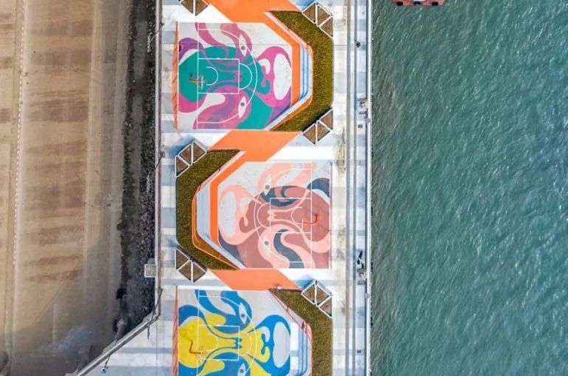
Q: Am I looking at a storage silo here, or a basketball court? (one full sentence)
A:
I can see a basketball court in this picture.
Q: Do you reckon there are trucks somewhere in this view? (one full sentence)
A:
No, the frame has no truck in it.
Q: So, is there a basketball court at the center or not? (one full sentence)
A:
Yes, the scene does show a basketball court at the center.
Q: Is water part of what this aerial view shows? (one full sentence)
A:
Yes, there's water in this view.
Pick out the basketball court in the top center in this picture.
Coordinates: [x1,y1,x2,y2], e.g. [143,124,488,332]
[177,21,292,130]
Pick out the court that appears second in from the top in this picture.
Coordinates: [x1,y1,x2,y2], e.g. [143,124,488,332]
[218,160,330,269]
